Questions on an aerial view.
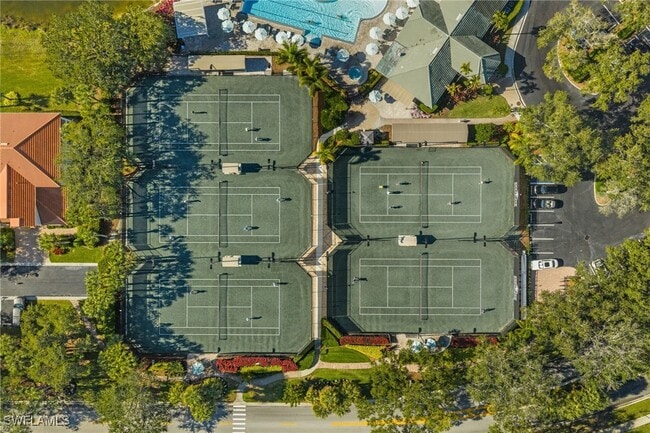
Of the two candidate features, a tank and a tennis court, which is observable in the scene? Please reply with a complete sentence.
It is a tennis court that can be seen here.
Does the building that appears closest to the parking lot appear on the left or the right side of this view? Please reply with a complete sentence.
The building that appears closest to the parking lot appears in the right half of the scene.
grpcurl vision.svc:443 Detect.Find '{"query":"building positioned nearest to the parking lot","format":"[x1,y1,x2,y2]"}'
[390,0,508,108]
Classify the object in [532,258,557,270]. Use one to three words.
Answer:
vehicle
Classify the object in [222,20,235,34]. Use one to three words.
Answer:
umbrella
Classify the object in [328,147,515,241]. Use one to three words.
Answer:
tennis court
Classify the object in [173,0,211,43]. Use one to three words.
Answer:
building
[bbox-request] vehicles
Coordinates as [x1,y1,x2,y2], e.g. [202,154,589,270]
[533,198,557,210]
[12,298,28,326]
[0,307,10,331]
[533,185,557,196]
[532,258,557,270]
